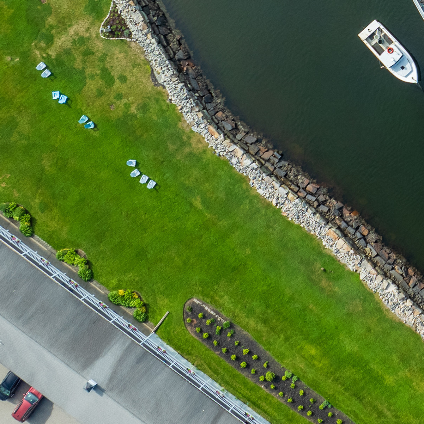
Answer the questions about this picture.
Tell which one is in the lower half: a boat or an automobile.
automobile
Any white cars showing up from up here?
No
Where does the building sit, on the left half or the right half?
left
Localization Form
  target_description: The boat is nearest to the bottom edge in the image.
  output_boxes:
[359,19,421,85]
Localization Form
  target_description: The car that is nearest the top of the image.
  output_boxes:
[0,371,21,401]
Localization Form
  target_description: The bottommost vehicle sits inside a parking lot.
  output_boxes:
[12,388,43,422]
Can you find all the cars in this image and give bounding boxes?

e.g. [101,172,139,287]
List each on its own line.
[12,388,43,422]
[0,371,21,401]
